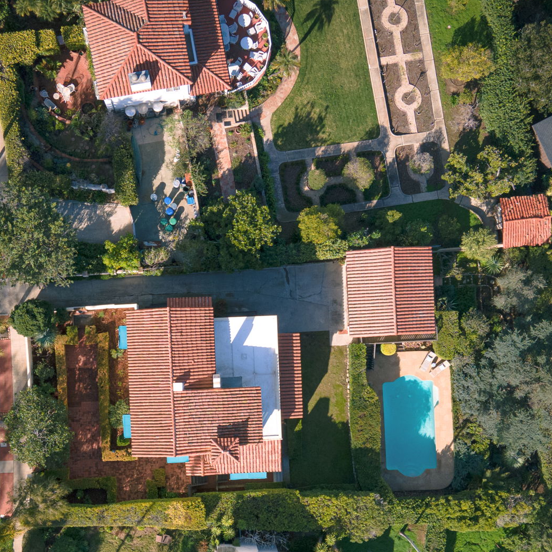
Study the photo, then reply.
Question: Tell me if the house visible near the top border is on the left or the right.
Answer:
left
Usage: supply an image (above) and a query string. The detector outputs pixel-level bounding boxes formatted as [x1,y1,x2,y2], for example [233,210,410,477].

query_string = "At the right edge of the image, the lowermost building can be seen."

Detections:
[498,192,552,249]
